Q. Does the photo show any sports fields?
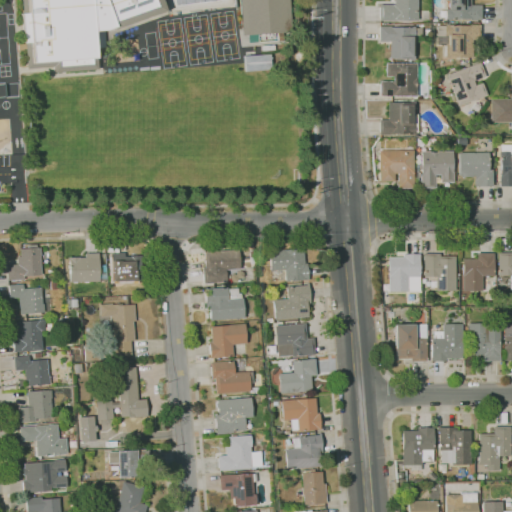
Yes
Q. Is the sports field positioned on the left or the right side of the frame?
left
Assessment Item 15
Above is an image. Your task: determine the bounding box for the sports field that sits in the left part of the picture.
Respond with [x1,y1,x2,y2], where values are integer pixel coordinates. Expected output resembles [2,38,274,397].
[20,70,300,196]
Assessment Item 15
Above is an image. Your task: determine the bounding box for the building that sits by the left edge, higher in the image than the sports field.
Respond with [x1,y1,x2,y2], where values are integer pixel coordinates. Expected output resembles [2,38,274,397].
[24,0,120,66]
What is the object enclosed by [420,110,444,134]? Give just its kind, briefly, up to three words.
swimming pool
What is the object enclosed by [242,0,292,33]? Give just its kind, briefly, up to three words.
building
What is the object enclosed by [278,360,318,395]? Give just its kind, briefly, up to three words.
house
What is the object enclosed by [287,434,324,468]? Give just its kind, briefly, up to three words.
house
